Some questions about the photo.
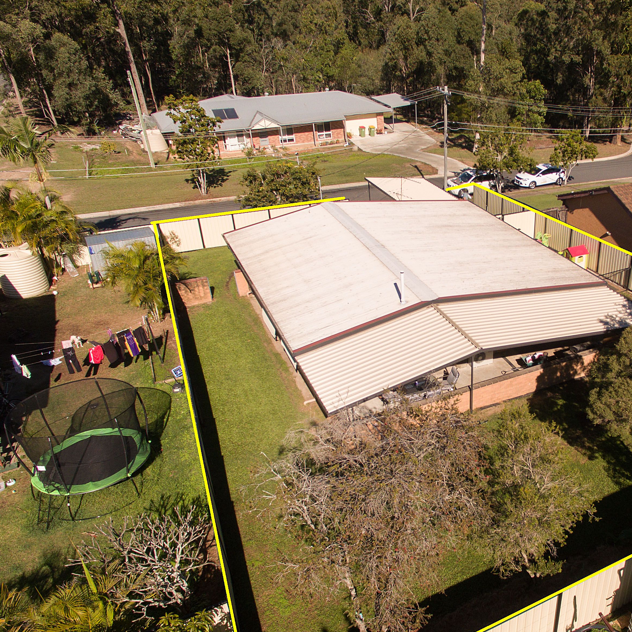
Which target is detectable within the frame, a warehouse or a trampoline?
trampoline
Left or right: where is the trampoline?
left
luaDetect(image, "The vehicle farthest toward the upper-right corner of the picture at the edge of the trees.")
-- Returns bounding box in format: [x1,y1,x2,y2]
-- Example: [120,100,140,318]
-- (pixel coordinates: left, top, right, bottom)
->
[514,163,565,189]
